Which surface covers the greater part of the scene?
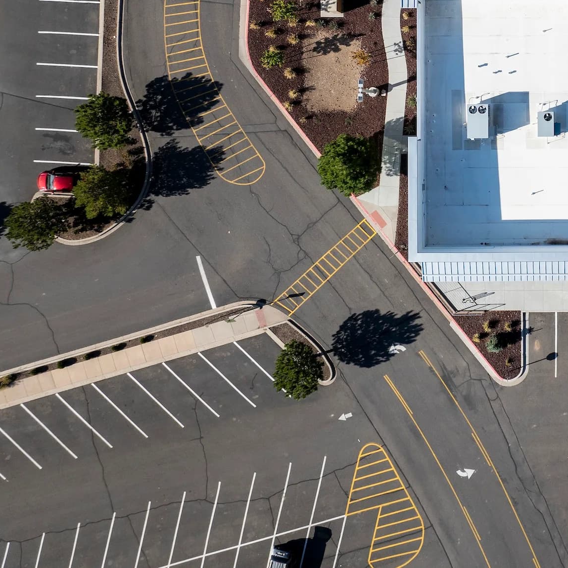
paved ground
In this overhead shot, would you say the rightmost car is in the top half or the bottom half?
bottom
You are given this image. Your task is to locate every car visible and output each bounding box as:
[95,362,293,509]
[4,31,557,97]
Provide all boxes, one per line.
[41,168,93,195]
[265,544,296,568]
